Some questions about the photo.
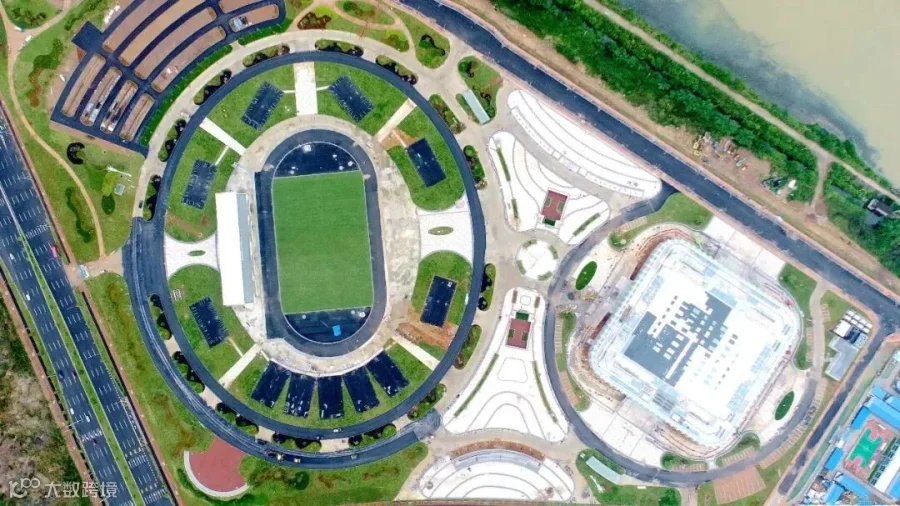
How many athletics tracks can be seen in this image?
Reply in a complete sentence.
The photo contains exactly 1 athletics track.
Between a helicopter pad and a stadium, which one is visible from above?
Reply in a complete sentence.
Visible in the photo is a stadium.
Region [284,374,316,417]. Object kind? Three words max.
sports court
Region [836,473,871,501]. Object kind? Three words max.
building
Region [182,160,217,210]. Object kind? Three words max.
sports court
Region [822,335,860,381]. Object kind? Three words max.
building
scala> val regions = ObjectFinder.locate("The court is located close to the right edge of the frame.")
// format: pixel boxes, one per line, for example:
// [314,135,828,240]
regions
[845,418,896,481]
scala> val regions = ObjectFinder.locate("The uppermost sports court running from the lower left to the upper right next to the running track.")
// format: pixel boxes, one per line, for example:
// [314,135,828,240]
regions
[241,81,284,129]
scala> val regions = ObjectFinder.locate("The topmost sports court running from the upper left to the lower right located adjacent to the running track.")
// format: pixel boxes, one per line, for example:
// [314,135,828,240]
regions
[330,76,374,120]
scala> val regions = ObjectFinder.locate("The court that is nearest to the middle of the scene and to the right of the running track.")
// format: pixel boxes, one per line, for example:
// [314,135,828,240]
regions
[420,275,457,328]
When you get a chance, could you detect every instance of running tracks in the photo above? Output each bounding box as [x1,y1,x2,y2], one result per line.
[250,128,388,357]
